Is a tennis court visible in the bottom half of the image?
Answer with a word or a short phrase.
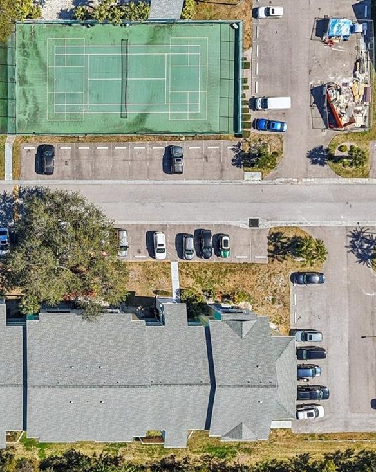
No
